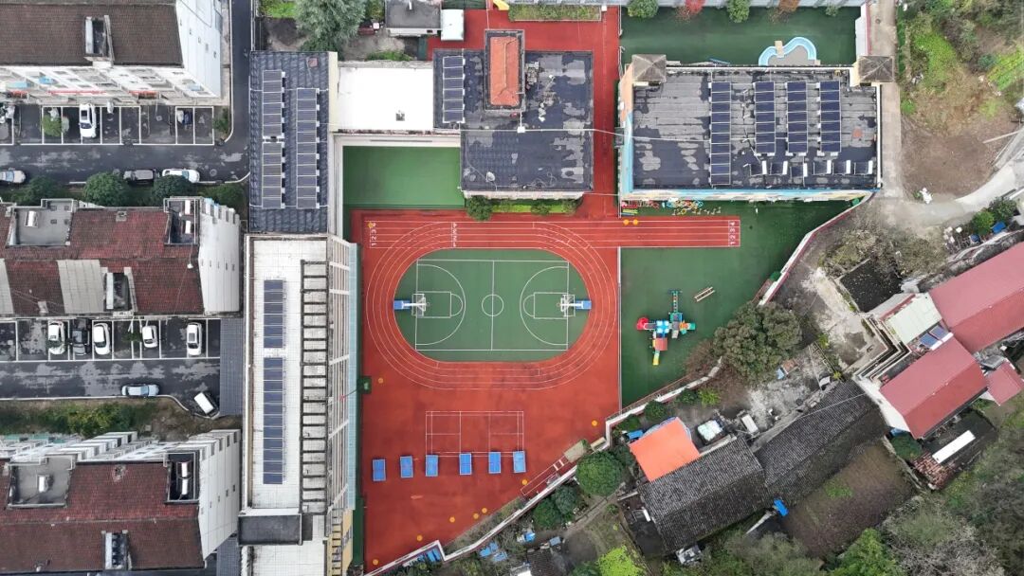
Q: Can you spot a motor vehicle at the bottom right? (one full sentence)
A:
No, no motor vehicle can be made out at the bottom right.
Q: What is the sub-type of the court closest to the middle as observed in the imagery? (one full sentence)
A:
Looking closely, the court closest to the middle is a basketball court.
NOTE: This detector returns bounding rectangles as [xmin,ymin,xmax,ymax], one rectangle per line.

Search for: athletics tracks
[365,217,741,390]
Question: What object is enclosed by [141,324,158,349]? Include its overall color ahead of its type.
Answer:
white car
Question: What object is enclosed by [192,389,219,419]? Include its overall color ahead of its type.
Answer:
white vehicle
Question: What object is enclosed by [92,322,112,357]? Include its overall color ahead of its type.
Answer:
white car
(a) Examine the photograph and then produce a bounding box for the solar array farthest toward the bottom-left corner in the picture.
[264,358,288,484]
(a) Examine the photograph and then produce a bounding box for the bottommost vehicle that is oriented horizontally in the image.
[121,382,160,399]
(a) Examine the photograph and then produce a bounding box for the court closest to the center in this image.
[394,248,589,362]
